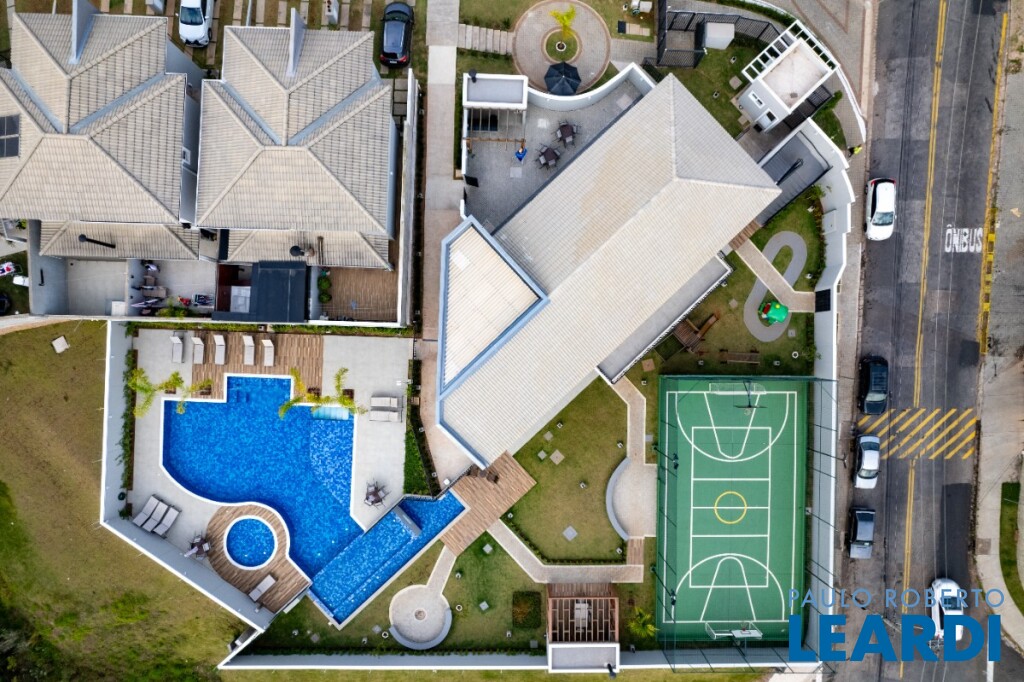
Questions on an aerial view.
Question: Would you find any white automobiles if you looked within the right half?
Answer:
Yes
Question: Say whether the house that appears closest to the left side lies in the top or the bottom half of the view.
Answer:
top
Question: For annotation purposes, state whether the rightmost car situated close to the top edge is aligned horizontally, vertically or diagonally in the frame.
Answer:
vertically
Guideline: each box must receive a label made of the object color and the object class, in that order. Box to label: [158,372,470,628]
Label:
blue swimming pool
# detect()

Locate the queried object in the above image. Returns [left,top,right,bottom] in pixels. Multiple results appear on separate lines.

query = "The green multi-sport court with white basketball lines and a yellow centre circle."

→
[656,376,806,641]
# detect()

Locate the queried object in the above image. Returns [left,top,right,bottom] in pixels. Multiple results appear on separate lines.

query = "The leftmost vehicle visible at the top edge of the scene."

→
[175,0,214,50]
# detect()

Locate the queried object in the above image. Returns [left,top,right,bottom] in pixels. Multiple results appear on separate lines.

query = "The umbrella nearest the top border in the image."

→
[545,62,580,97]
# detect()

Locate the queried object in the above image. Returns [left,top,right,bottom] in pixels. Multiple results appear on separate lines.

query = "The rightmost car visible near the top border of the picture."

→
[382,2,415,69]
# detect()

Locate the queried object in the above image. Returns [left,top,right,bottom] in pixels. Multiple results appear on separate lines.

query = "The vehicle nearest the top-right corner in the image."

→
[862,179,899,243]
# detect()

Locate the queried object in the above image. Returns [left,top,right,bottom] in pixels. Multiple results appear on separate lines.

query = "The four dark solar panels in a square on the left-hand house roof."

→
[1,114,18,158]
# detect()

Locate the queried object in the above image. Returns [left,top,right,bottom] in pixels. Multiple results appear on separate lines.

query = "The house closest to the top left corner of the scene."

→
[0,0,217,259]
